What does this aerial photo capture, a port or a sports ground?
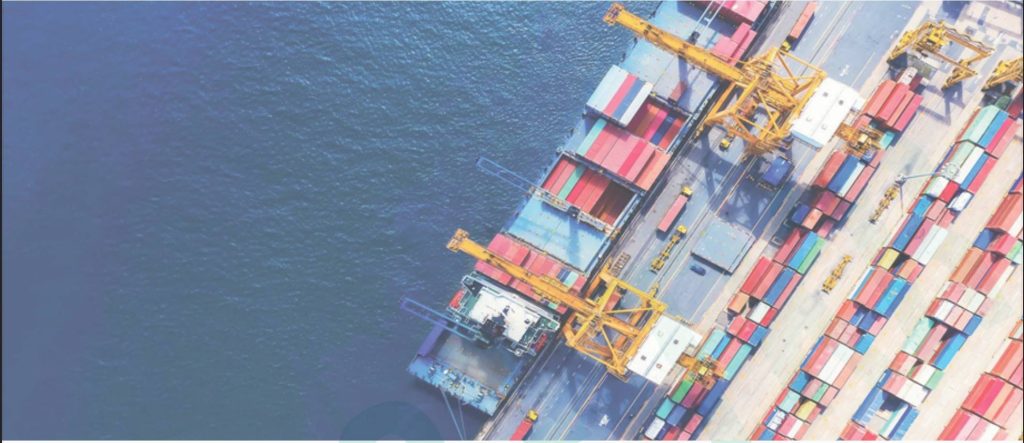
port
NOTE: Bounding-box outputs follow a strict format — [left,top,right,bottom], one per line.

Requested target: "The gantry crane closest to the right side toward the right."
[977,53,1024,95]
